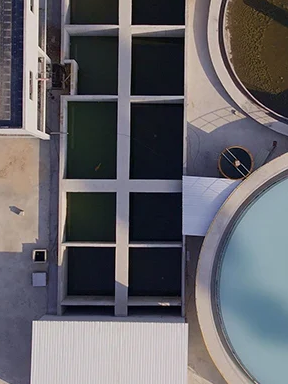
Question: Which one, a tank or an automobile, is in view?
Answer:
tank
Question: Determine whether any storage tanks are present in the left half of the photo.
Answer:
No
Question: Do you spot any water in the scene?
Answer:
Yes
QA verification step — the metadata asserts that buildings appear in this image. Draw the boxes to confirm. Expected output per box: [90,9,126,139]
[32,311,187,384]
[0,0,51,139]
